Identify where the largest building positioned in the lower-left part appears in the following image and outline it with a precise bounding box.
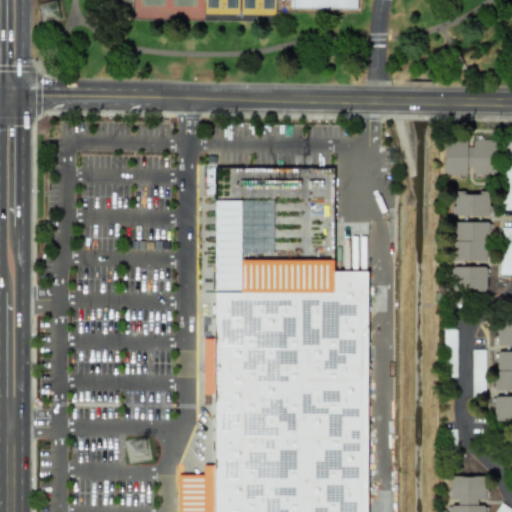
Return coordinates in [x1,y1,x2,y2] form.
[125,439,152,466]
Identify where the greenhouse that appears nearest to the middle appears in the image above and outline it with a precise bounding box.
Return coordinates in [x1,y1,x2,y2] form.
[243,200,274,253]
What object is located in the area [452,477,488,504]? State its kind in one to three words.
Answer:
building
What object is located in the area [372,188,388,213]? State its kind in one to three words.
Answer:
vehicle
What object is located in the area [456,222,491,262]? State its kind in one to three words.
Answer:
building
